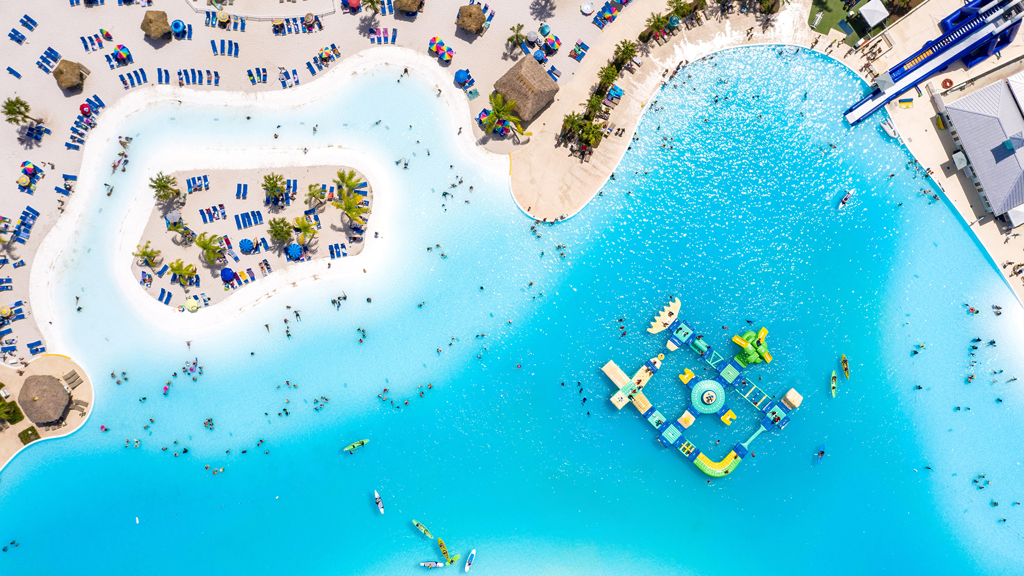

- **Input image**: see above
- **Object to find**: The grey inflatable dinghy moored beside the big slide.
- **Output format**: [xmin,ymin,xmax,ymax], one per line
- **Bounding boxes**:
[880,117,899,139]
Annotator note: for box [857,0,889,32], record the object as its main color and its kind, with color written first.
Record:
white tent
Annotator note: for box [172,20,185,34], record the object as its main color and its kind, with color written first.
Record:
blue umbrella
